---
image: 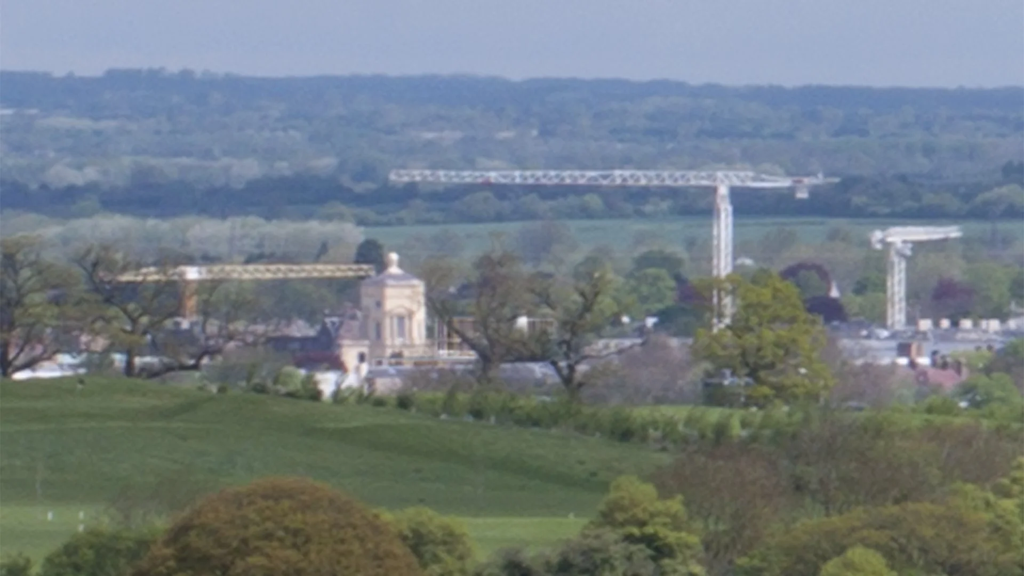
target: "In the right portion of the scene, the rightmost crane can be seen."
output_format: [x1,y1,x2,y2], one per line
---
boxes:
[873,230,959,325]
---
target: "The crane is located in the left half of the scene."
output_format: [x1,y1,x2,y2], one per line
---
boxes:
[119,263,376,340]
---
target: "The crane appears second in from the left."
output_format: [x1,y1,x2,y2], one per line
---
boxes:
[397,169,840,373]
